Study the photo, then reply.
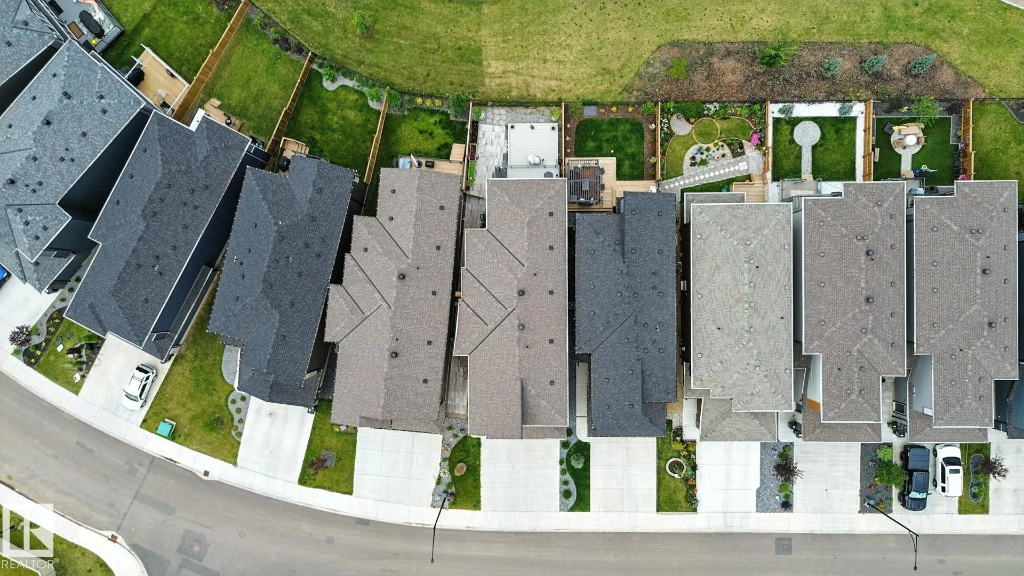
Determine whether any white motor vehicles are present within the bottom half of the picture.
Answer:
Yes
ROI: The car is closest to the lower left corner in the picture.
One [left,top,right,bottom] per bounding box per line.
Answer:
[118,362,158,415]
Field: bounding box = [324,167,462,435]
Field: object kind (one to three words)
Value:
house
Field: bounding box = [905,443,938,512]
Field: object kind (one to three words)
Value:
truck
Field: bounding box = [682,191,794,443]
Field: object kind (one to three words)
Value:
house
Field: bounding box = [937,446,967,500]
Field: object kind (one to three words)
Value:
car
